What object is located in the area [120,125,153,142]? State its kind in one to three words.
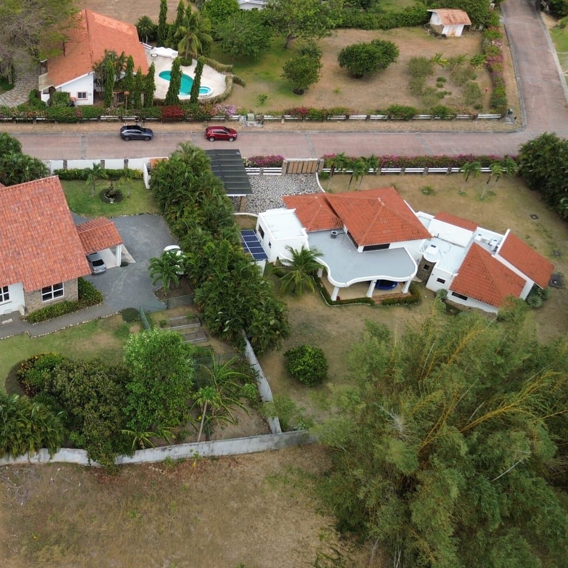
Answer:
car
